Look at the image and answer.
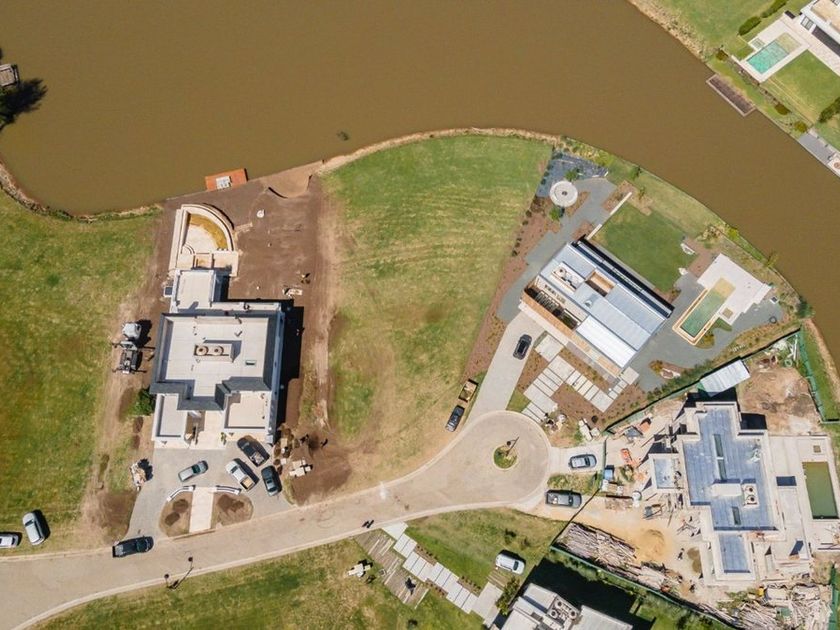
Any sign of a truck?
Yes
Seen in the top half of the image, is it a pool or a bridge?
pool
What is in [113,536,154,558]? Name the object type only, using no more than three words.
truck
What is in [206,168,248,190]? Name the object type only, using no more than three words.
pier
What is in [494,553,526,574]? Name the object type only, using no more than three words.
car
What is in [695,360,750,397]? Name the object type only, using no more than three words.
shed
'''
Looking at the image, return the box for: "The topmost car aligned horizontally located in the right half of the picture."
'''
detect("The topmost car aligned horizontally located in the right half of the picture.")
[567,454,597,469]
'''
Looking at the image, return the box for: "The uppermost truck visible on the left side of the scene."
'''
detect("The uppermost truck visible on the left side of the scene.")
[112,320,155,373]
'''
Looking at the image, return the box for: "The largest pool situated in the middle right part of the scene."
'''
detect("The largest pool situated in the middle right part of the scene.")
[673,253,771,340]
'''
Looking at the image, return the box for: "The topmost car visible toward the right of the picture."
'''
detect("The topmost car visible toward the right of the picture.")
[514,333,532,361]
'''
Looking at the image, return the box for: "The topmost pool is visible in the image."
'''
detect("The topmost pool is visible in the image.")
[741,16,809,81]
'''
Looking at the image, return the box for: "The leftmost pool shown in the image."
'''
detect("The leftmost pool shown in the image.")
[170,203,240,278]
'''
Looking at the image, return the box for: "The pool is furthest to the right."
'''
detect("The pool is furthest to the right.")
[802,462,836,518]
